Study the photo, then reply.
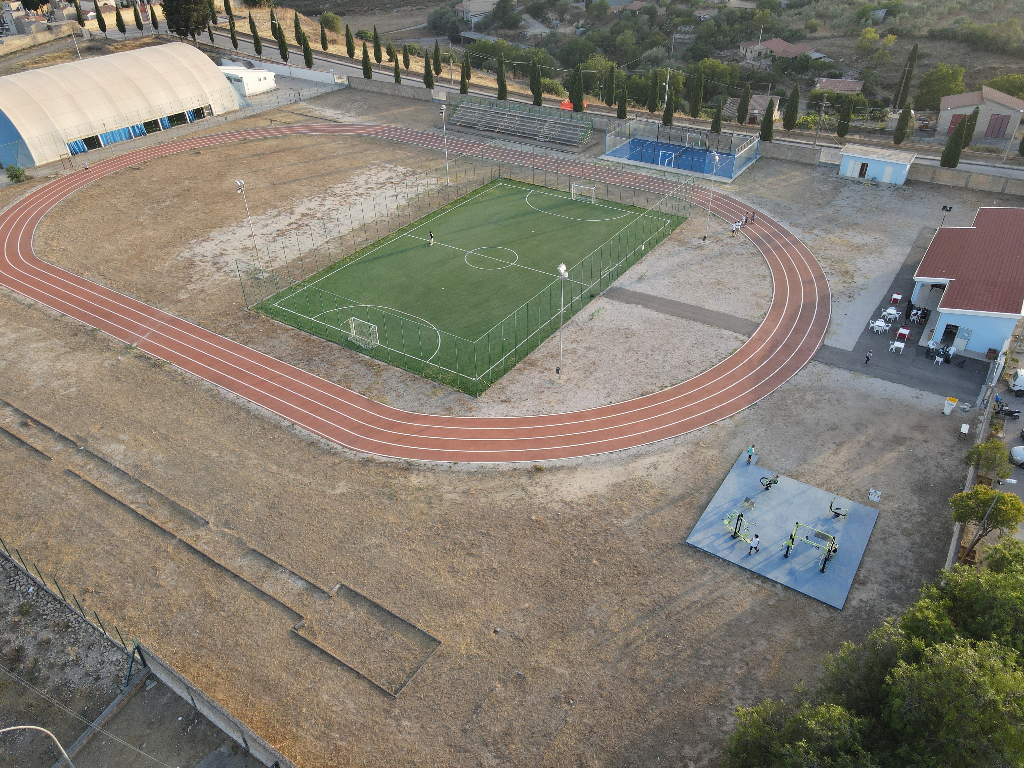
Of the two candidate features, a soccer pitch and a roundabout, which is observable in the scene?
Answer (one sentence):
Of the two, only a soccer pitch appears.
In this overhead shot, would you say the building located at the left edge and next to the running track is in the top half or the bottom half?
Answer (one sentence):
The top half of the photo is where the building located at the left edge and next to the running track is.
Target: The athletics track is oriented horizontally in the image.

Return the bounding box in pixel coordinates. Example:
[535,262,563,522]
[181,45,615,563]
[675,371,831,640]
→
[0,124,834,465]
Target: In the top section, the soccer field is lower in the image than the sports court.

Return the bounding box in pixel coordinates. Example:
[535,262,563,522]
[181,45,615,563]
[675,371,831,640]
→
[251,178,687,394]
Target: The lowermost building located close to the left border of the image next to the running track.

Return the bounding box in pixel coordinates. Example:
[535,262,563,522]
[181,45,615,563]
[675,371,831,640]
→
[0,42,248,166]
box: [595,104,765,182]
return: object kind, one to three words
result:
sports court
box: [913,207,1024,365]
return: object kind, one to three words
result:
building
